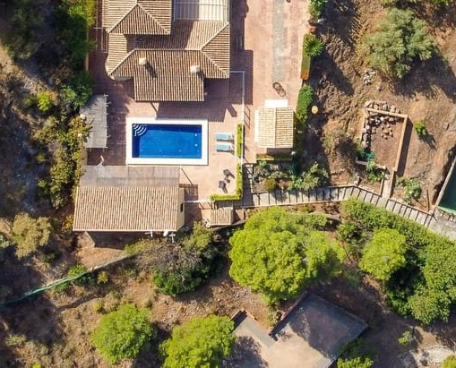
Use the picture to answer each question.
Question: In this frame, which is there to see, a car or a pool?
pool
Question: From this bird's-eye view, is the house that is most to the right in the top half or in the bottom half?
bottom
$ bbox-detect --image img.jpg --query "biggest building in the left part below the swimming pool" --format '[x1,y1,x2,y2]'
[71,164,184,242]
